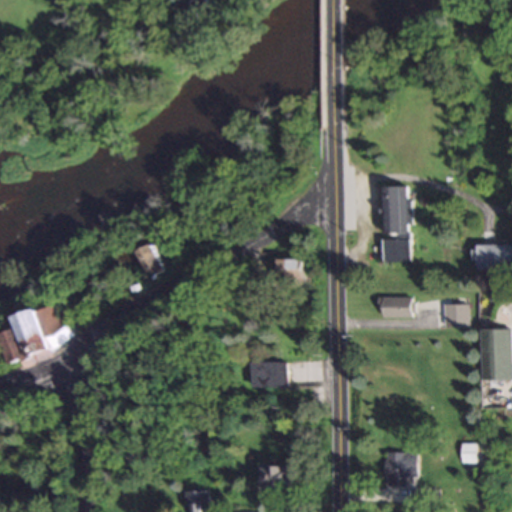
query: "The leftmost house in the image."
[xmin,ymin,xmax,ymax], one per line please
[0,306,74,369]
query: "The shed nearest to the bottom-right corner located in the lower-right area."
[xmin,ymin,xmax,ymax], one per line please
[462,444,482,466]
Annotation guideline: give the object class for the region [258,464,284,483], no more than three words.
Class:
house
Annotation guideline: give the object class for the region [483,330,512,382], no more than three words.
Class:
building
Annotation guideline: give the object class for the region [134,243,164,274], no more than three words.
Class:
house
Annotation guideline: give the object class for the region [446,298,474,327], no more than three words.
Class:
building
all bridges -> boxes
[320,0,349,128]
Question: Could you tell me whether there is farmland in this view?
No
